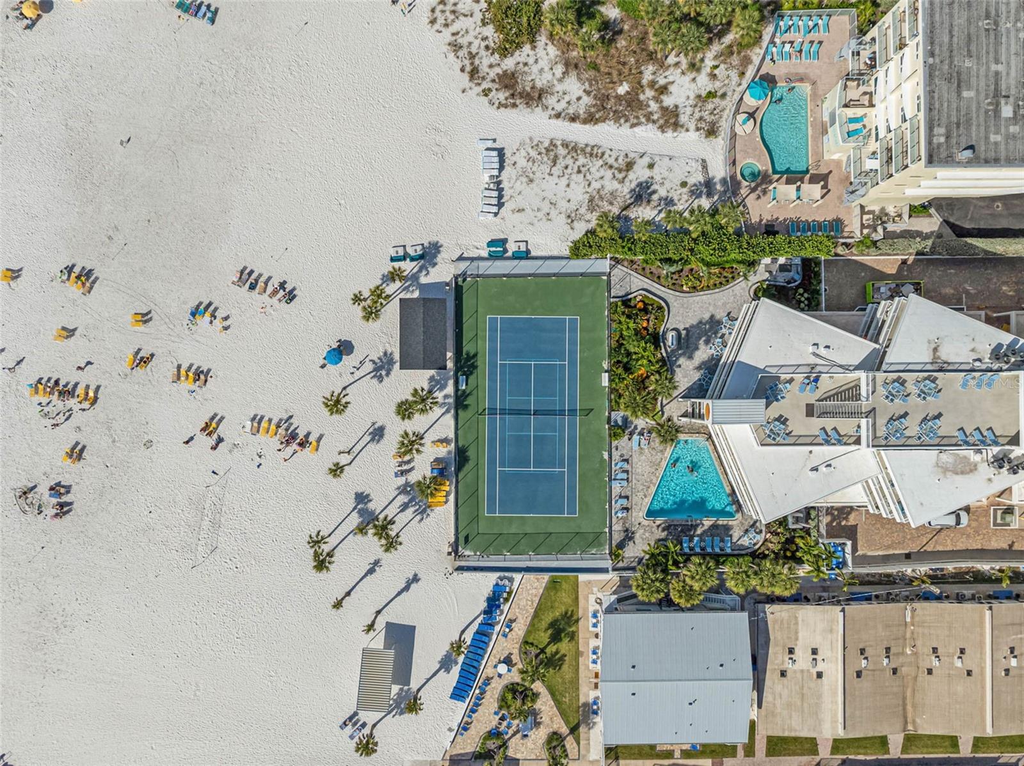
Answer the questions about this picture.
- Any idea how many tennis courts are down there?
1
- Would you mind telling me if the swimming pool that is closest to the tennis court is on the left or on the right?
right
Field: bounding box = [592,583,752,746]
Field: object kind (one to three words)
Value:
house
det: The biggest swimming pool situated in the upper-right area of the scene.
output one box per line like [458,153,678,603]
[757,81,818,178]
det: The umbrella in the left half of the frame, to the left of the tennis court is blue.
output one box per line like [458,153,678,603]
[325,348,343,365]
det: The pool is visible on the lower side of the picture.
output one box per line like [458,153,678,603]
[642,436,738,524]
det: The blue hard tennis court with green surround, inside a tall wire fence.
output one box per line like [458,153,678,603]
[455,259,609,572]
